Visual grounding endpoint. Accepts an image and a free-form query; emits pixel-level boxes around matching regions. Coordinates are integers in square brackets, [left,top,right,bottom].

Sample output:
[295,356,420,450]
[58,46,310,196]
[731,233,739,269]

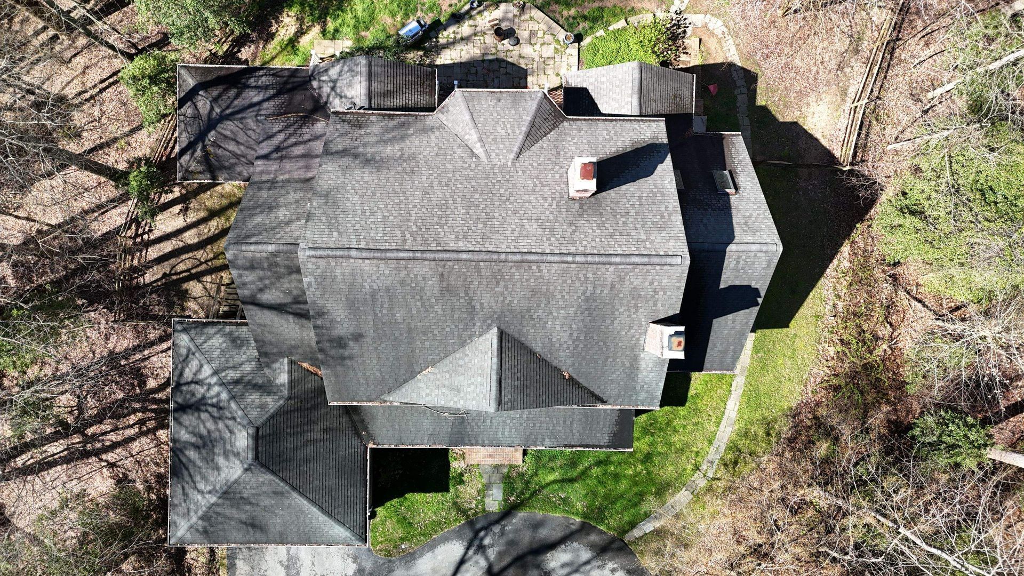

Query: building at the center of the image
[170,56,782,549]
